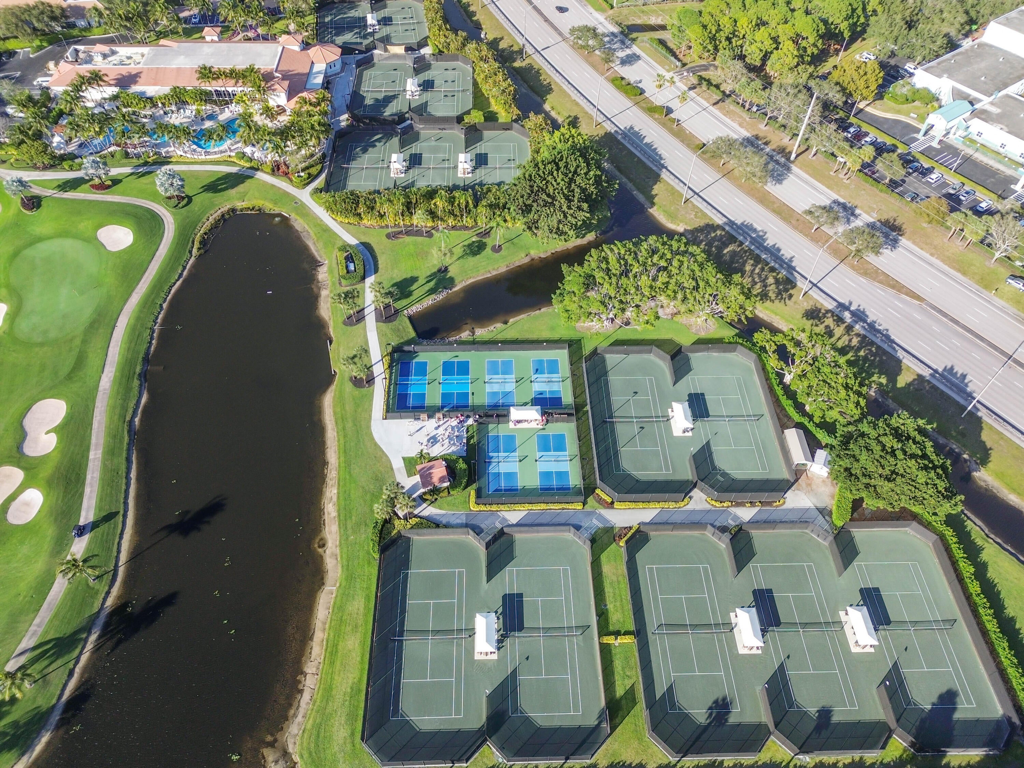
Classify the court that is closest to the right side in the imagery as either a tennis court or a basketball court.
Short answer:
tennis court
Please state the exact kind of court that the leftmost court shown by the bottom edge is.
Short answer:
tennis court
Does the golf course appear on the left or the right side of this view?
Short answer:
left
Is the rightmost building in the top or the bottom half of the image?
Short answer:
top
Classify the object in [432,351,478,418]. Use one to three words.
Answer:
sports court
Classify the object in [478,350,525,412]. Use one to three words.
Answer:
sports court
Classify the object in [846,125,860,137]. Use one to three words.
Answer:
vehicle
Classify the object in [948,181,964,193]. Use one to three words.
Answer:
vehicle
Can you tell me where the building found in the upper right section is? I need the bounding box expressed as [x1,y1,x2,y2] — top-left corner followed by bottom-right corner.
[911,7,1024,175]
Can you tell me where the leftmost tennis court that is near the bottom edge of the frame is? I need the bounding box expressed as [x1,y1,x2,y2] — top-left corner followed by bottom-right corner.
[363,538,486,762]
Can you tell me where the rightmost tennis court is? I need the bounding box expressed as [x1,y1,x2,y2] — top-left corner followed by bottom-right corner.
[837,530,1008,749]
